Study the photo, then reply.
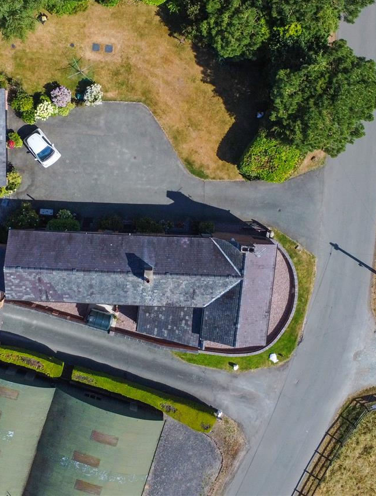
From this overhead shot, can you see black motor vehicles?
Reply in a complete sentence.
No, the scene contains no black motor vehicle.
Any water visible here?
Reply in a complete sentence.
No, there is no water in the image.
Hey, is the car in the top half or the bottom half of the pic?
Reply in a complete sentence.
It is in the top half that the car appears.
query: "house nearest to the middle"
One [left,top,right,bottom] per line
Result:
[0,228,279,347]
